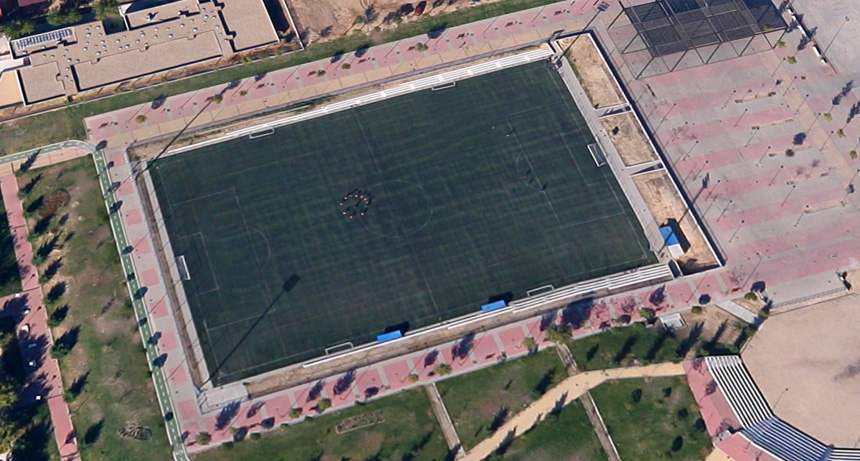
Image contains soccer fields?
Yes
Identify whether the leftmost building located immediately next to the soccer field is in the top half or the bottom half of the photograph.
top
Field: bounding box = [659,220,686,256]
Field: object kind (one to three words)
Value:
shed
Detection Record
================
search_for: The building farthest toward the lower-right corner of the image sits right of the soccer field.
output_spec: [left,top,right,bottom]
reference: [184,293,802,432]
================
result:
[660,310,686,331]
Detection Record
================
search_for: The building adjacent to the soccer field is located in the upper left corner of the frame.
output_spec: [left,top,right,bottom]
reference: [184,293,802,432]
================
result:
[9,0,281,113]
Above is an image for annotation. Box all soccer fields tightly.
[148,55,658,386]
